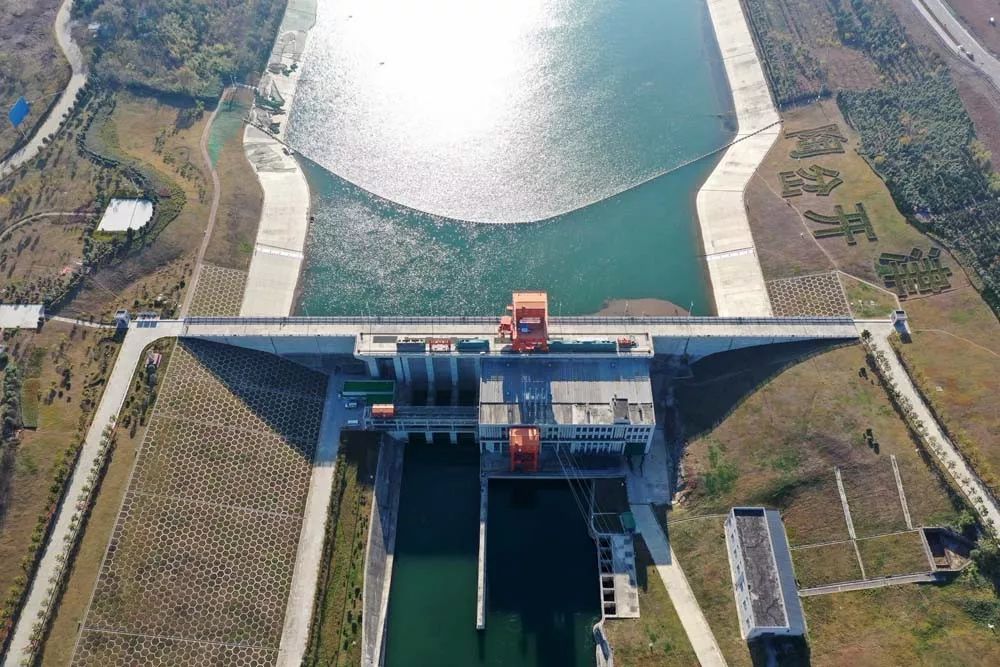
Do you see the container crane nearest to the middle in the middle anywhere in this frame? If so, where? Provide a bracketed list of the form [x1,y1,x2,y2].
[502,285,551,352]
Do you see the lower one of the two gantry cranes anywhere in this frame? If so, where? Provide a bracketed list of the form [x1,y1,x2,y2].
[510,428,541,472]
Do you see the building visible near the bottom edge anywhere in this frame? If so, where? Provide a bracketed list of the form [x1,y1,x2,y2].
[720,507,812,644]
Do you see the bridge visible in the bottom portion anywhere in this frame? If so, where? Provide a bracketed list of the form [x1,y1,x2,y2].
[366,379,479,462]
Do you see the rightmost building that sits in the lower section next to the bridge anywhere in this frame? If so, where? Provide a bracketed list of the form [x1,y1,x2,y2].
[478,354,659,490]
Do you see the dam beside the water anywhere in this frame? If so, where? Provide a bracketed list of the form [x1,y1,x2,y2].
[182,315,864,408]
